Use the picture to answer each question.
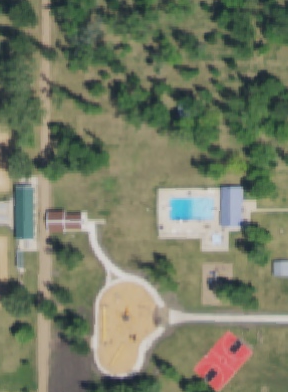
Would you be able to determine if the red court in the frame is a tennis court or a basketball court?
basketball court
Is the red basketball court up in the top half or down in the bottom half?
bottom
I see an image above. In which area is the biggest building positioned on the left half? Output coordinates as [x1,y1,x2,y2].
[14,185,34,238]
